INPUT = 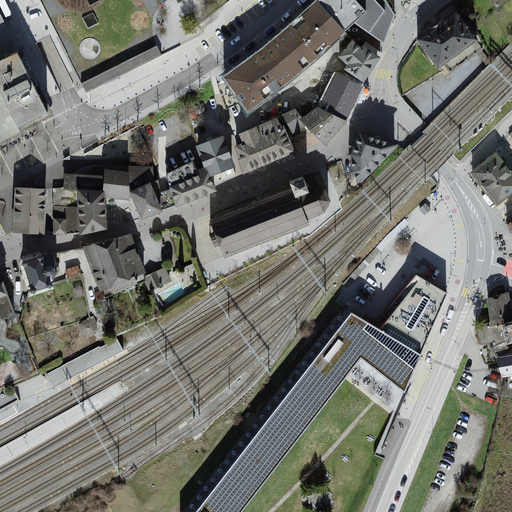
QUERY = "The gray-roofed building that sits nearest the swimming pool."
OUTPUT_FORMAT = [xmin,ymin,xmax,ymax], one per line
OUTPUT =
[144,268,172,292]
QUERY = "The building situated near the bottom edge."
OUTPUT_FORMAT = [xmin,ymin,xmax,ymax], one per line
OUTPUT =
[196,312,422,512]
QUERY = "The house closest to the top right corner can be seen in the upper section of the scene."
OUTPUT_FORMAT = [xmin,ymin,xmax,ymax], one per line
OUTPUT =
[418,12,476,68]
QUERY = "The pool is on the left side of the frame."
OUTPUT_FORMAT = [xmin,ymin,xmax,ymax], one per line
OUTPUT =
[157,283,185,304]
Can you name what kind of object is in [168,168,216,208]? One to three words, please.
house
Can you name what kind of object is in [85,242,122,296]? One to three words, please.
barn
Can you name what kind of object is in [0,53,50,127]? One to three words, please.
building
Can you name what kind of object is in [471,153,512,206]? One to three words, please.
house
